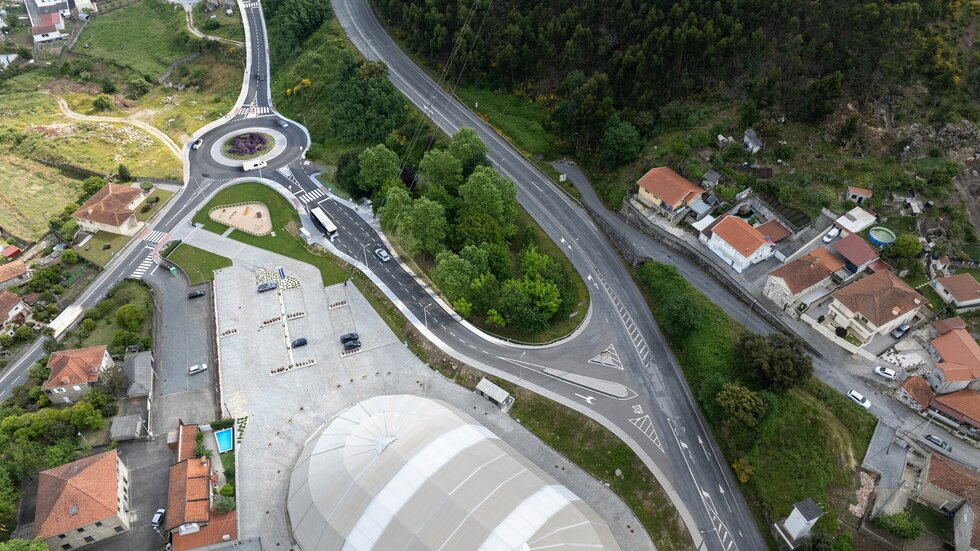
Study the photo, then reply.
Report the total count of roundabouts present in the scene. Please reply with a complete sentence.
The picture shows 1 roundabout.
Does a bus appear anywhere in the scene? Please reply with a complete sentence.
Yes, there is a bus in the image.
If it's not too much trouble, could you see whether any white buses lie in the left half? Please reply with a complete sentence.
Yes, there is a white bus in the left half.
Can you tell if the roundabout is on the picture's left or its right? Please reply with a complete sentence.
The roundabout appears in the left half of the scene.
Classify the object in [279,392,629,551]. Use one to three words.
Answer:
building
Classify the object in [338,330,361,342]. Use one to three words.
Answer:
vehicle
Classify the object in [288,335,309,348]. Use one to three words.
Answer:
vehicle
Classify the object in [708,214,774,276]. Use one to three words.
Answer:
house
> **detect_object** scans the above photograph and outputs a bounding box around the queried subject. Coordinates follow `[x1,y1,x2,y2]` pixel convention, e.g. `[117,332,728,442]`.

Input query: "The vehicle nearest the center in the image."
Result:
[372,245,391,259]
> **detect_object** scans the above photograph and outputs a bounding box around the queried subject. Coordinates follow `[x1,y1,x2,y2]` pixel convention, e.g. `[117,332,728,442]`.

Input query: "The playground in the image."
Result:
[209,201,272,235]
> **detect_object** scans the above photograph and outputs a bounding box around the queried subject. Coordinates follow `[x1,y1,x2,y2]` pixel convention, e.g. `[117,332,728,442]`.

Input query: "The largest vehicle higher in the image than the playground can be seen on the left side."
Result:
[243,156,268,170]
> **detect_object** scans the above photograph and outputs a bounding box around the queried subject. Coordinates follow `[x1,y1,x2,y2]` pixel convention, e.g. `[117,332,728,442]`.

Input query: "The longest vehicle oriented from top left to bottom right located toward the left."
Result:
[308,206,342,244]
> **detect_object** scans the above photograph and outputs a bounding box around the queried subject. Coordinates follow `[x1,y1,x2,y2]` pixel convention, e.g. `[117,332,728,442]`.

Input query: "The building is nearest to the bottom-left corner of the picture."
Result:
[0,449,131,551]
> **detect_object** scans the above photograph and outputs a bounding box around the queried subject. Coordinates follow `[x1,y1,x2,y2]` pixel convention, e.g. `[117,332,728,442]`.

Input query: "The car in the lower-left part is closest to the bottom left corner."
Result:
[146,504,167,529]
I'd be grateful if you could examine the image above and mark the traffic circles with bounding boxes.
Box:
[189,115,308,185]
